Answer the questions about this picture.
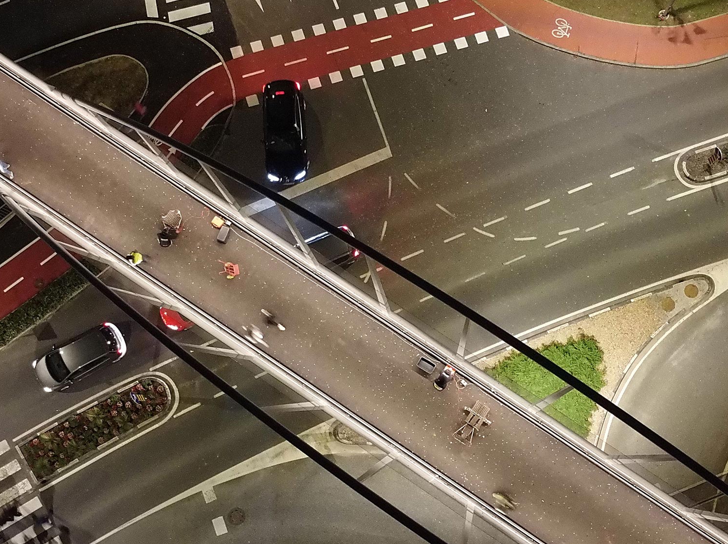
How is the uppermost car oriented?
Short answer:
up and down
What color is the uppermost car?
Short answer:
black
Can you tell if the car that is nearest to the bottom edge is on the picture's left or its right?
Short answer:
left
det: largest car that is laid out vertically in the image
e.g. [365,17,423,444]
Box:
[254,76,306,184]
